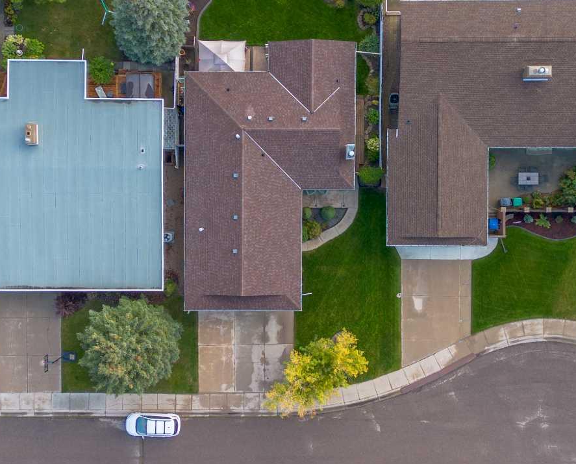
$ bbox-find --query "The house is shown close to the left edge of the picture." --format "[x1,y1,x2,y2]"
[0,48,164,292]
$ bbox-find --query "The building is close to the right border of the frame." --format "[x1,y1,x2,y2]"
[386,0,576,247]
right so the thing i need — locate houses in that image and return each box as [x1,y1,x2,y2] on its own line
[0,48,164,292]
[386,0,576,247]
[184,39,357,313]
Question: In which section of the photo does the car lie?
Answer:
bottom left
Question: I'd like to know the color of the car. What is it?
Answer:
white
